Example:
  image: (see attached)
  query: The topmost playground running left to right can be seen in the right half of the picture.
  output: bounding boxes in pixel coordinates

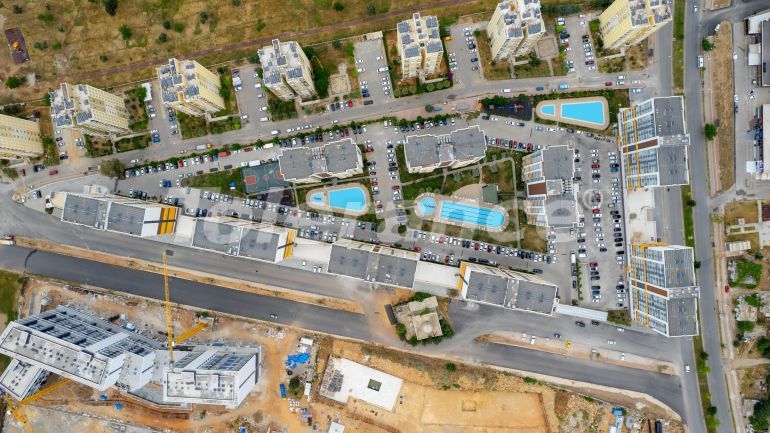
[486,98,531,120]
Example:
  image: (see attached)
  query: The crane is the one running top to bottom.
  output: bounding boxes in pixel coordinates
[162,249,211,366]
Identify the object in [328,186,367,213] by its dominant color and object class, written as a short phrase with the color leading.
blue swimming pool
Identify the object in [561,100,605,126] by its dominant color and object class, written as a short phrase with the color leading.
blue swimming pool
